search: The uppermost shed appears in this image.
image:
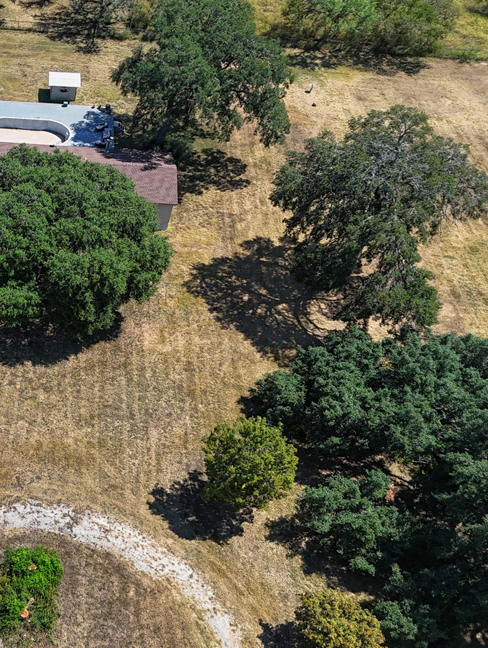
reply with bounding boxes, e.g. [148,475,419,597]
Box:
[49,70,80,103]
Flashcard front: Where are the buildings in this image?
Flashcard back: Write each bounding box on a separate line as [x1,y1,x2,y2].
[49,70,80,103]
[0,141,179,227]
